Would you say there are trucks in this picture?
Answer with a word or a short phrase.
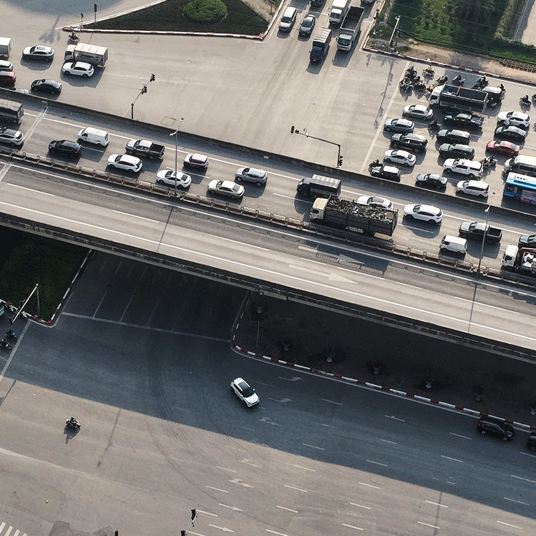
Yes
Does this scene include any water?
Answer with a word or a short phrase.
No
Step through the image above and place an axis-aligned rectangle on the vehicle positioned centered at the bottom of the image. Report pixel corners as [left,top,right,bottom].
[231,378,258,407]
